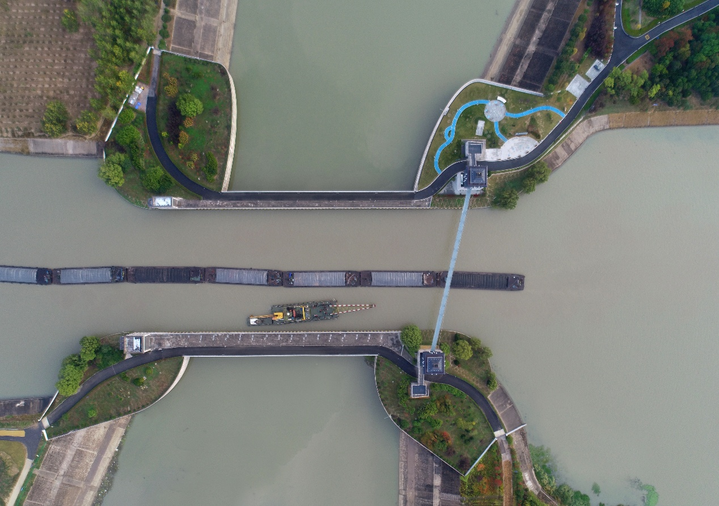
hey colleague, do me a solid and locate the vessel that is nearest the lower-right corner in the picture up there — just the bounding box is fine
[437,271,525,291]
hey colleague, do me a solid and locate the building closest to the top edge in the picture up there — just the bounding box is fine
[460,140,486,166]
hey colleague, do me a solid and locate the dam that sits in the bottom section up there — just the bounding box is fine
[122,332,403,358]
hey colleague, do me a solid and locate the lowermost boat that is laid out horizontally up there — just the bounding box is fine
[247,299,376,327]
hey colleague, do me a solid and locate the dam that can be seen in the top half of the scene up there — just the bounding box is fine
[150,191,432,208]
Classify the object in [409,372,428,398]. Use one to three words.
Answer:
building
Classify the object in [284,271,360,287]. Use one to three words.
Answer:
ship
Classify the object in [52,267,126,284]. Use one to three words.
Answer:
ship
